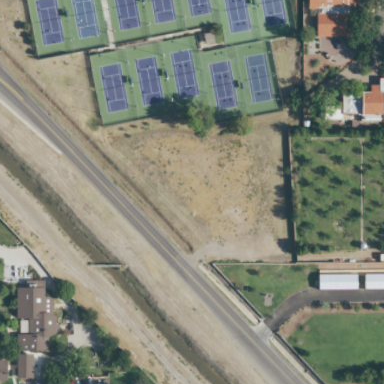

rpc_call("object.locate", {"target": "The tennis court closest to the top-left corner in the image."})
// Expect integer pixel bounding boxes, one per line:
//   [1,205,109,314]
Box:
[27,0,74,59]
